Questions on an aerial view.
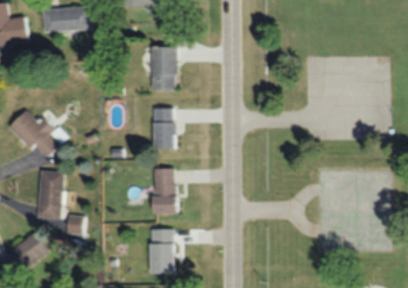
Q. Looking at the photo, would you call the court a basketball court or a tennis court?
tennis court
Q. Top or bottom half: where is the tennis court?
bottom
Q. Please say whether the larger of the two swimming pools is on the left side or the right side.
left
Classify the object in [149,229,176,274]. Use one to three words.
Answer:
house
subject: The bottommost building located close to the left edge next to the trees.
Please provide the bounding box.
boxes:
[16,237,54,270]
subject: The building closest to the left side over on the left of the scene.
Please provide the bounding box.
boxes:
[0,2,28,46]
